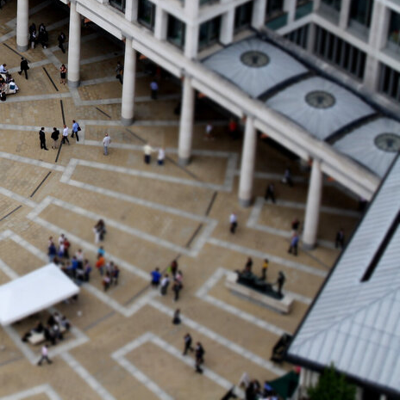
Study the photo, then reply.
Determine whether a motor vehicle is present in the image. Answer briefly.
No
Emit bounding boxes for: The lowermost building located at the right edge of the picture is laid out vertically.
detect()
[285,157,400,400]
